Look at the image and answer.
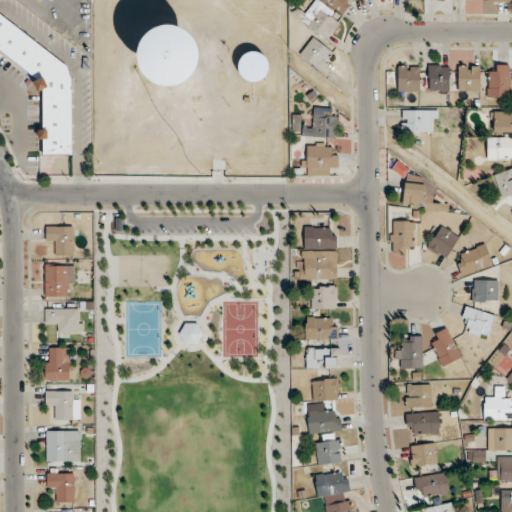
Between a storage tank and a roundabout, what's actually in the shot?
storage tank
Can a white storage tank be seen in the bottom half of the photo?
No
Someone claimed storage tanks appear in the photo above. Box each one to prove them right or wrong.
[236,50,269,98]
[137,24,199,86]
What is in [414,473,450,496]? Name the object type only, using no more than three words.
house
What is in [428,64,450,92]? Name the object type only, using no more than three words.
house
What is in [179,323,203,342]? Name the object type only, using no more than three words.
building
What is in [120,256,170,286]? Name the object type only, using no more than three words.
sports court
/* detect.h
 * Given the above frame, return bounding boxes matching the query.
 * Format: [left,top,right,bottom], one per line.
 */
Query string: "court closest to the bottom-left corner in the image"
[126,302,162,357]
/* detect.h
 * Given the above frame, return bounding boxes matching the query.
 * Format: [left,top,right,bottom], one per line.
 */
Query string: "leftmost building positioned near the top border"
[0,13,72,154]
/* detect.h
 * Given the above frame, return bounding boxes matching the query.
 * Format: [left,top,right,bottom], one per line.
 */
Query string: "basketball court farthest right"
[223,302,258,357]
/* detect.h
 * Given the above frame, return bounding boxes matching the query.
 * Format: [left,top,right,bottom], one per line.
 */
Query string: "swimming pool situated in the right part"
[470,112,488,134]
